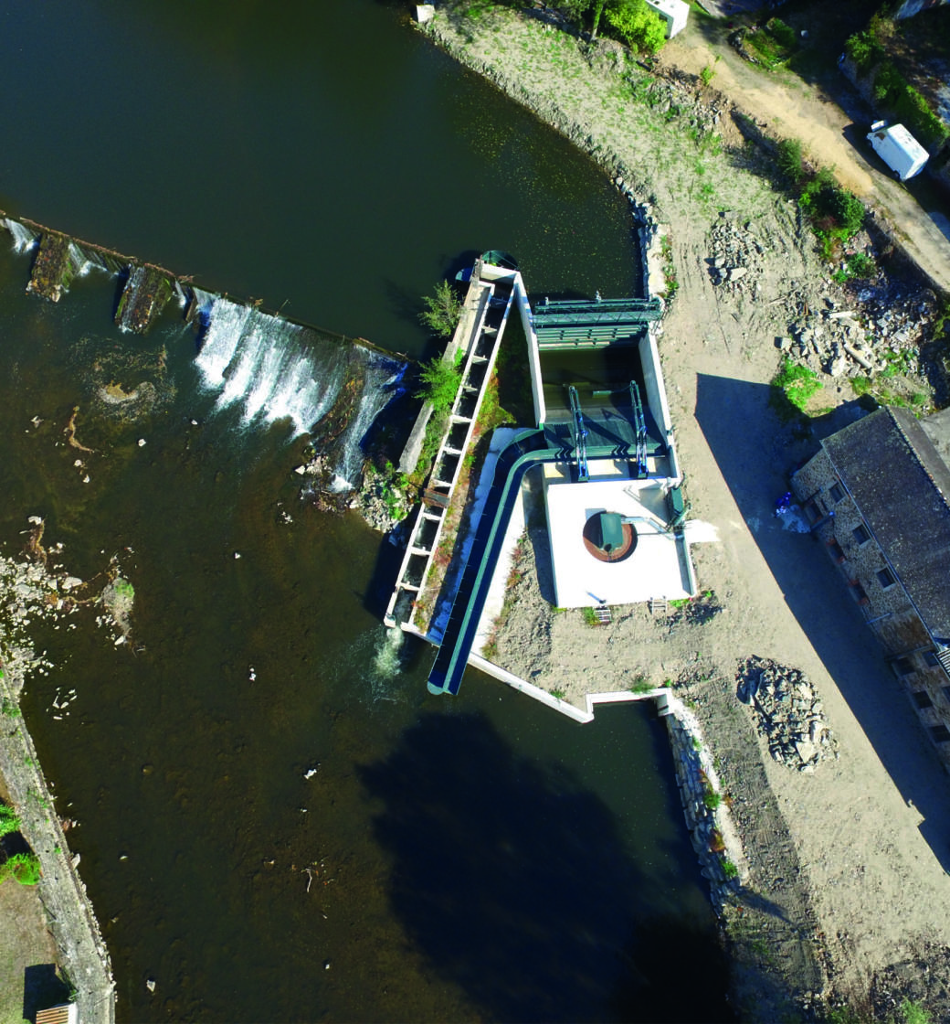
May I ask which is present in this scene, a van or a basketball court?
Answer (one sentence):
The one in the frame is a van.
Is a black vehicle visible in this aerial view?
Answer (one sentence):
No, there appears to be no black vehicle in this shot.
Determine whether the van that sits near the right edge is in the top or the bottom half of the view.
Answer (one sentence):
The van that sits near the right edge is in the top half of the image.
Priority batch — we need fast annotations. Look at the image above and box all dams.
[0,212,413,505]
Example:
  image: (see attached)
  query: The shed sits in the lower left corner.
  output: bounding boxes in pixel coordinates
[34,995,89,1024]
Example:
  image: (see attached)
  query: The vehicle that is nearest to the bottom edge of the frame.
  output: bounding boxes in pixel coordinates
[870,124,930,179]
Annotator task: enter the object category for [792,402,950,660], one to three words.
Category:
house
